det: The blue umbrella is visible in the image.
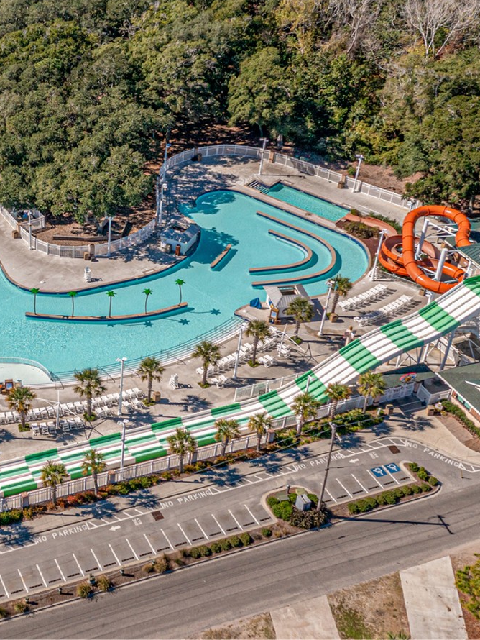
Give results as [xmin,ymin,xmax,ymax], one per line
[250,291,263,310]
